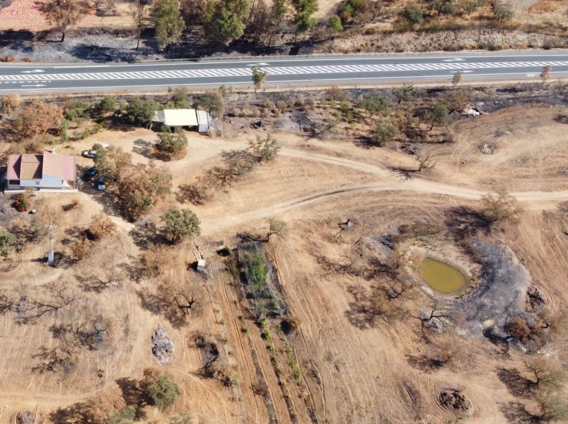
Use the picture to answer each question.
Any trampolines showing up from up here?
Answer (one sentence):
No, the photo shows no trampoline.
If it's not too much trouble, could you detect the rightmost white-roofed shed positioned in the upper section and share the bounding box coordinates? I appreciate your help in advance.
[164,109,197,133]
